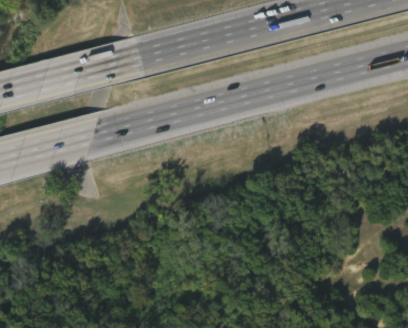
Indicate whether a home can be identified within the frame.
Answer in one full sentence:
No, no home is visible in the view.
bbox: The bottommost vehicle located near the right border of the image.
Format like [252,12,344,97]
[368,54,408,70]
